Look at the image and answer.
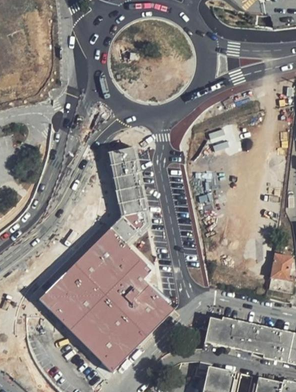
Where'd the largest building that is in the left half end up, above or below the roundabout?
below it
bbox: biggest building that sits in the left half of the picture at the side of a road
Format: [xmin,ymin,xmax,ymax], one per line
[38,230,174,374]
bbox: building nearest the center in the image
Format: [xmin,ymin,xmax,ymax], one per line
[108,147,150,244]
